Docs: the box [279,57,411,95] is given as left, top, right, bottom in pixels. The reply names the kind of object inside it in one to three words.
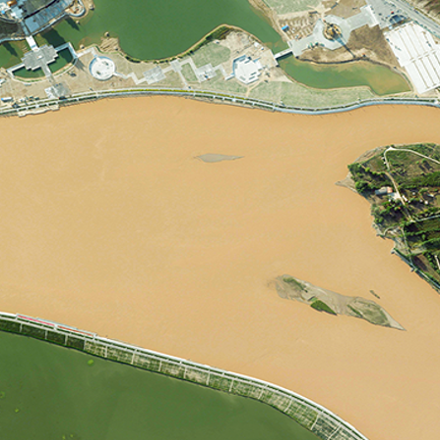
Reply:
pond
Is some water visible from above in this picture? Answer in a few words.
Yes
